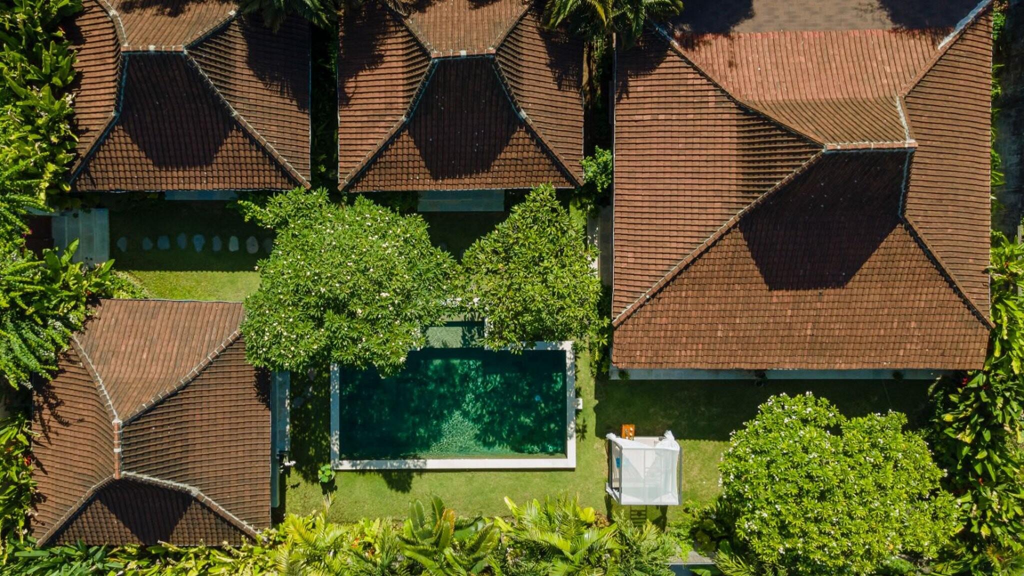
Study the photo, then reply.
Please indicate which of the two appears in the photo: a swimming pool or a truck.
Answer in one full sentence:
It is a swimming pool that can be seen here.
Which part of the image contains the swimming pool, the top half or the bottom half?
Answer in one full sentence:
The swimming pool sits in the bottom half of the picture.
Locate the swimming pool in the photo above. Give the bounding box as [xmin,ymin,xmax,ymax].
[330,303,576,469]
